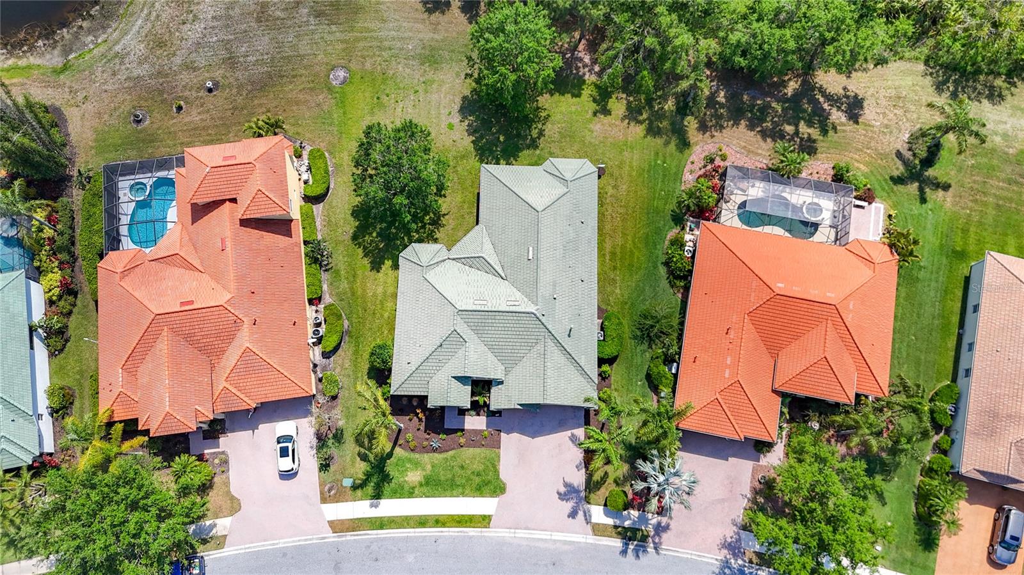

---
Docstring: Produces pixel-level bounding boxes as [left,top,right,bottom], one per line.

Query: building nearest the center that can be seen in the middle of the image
[391,157,599,411]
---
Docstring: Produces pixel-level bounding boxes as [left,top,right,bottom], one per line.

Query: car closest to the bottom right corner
[987,503,1024,567]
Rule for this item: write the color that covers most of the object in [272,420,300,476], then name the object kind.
white car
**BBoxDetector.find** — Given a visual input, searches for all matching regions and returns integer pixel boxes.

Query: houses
[0,268,54,469]
[947,250,1024,496]
[677,220,901,443]
[391,157,599,411]
[96,134,320,439]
